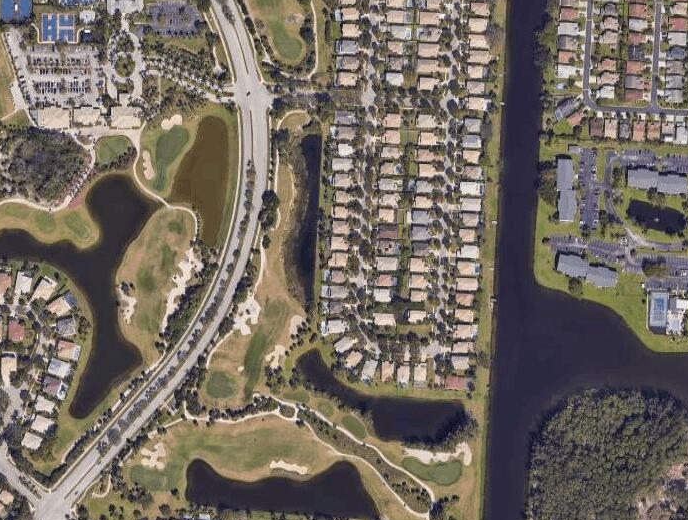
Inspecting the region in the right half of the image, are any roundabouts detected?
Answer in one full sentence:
No, looking in the right half of the image, there is no roundabout.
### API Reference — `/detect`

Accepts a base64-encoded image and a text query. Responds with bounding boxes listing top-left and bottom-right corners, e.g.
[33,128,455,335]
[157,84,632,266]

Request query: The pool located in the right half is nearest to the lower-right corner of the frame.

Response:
[668,309,683,336]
